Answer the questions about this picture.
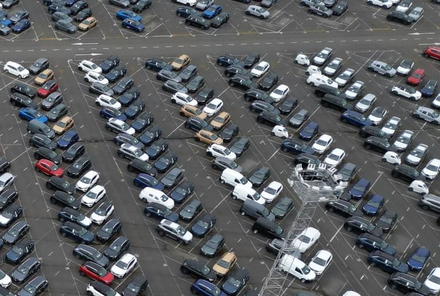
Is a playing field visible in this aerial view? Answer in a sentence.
No, the picture doesn't show any playing field.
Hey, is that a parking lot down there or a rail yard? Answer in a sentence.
This looks like a parking lot.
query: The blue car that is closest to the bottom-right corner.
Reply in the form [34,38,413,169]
[405,245,431,273]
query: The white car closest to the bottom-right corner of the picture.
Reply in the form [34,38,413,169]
[422,268,440,296]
